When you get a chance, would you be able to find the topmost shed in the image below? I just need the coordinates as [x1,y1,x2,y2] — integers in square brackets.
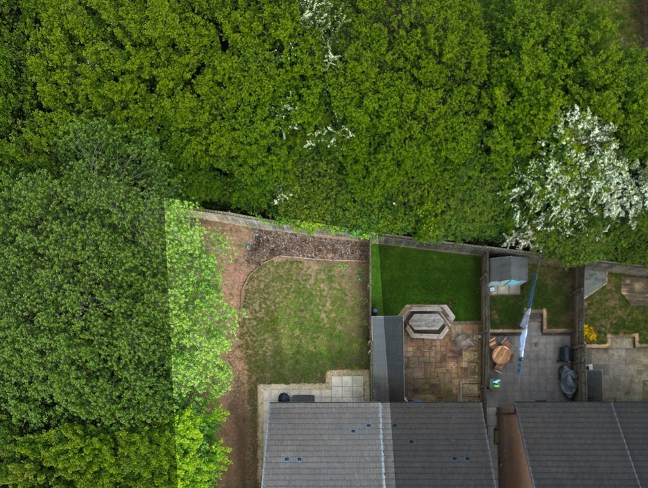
[488,256,528,286]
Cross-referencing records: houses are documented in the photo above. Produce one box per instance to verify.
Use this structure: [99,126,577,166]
[497,398,648,488]
[262,399,497,488]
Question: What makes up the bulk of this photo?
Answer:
trees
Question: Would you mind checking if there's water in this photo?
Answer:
No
